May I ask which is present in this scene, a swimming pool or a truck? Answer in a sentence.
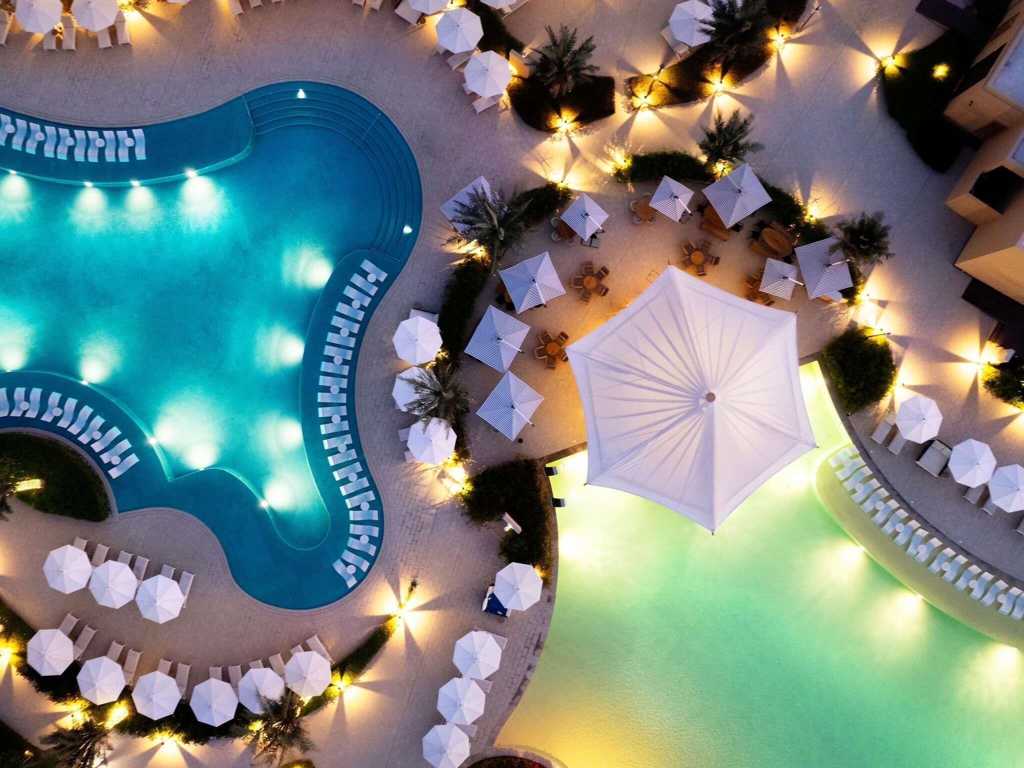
There is a swimming pool in the scene.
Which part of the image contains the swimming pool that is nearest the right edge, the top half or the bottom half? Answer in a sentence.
It is in the bottom half that the swimming pool that is nearest the right edge appears.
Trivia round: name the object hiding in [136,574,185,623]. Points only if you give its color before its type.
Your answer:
white umbrella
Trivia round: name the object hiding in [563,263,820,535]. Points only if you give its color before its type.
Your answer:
white tent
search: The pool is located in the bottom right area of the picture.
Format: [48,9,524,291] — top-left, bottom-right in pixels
[494,362,1024,768]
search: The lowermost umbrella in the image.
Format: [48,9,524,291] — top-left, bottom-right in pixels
[422,724,469,768]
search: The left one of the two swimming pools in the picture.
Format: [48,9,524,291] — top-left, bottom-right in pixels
[0,81,422,610]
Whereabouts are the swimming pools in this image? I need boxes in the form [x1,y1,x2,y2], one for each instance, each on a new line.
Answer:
[0,81,422,610]
[494,362,1024,768]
